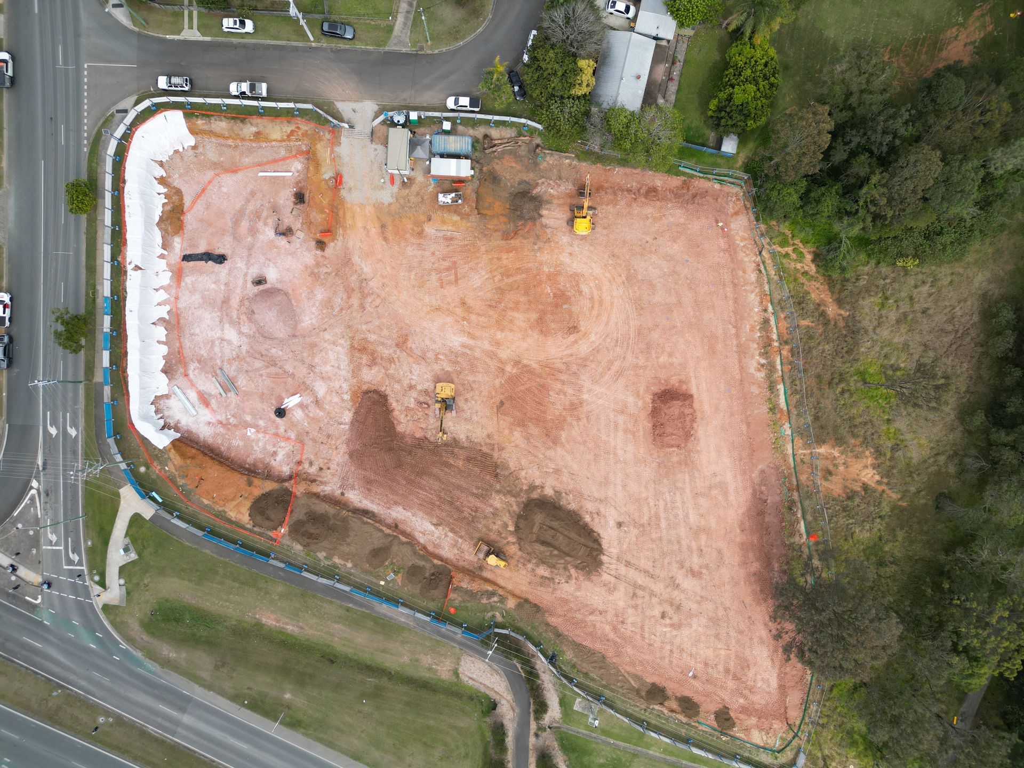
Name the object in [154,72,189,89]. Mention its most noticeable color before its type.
white car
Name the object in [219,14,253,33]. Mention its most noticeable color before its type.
white car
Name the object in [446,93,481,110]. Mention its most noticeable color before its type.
white vehicle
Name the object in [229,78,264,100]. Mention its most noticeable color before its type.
white truck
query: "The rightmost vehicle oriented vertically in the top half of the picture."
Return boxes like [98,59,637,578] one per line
[570,168,596,233]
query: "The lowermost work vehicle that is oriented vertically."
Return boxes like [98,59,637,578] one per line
[435,384,455,449]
